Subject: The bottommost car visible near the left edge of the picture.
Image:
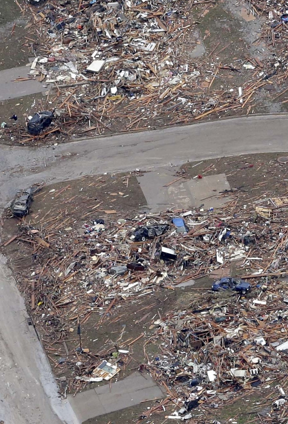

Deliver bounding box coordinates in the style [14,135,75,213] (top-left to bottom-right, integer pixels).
[9,187,37,217]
